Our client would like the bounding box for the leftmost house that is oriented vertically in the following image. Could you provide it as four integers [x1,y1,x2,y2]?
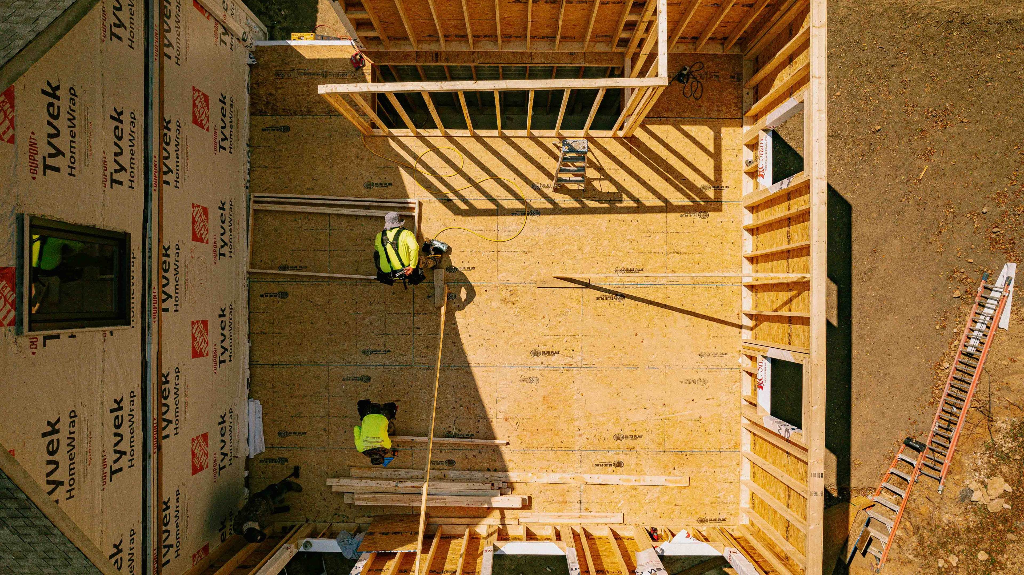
[0,0,275,575]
